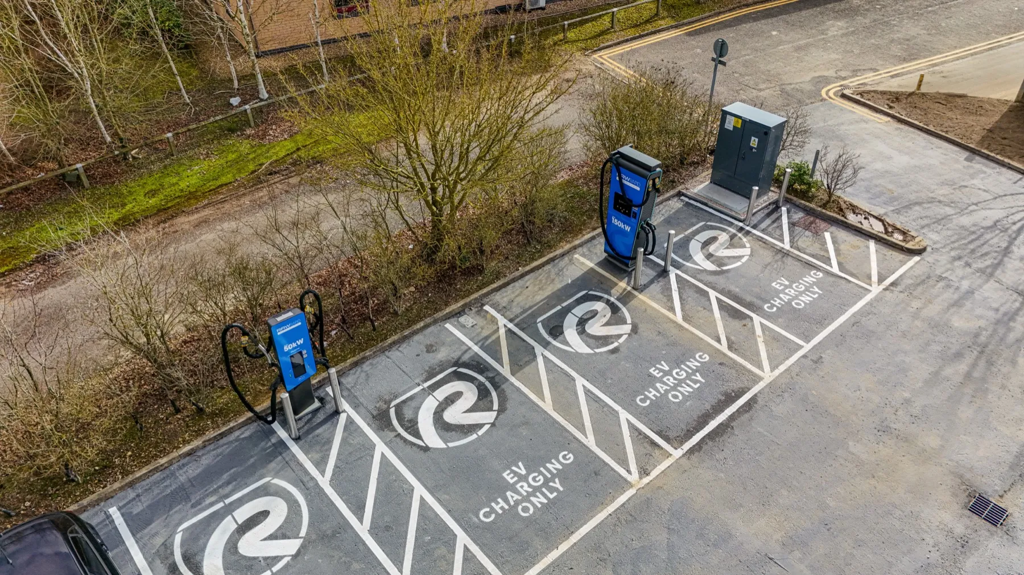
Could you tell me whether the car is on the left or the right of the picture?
left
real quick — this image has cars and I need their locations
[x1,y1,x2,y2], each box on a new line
[0,504,124,575]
